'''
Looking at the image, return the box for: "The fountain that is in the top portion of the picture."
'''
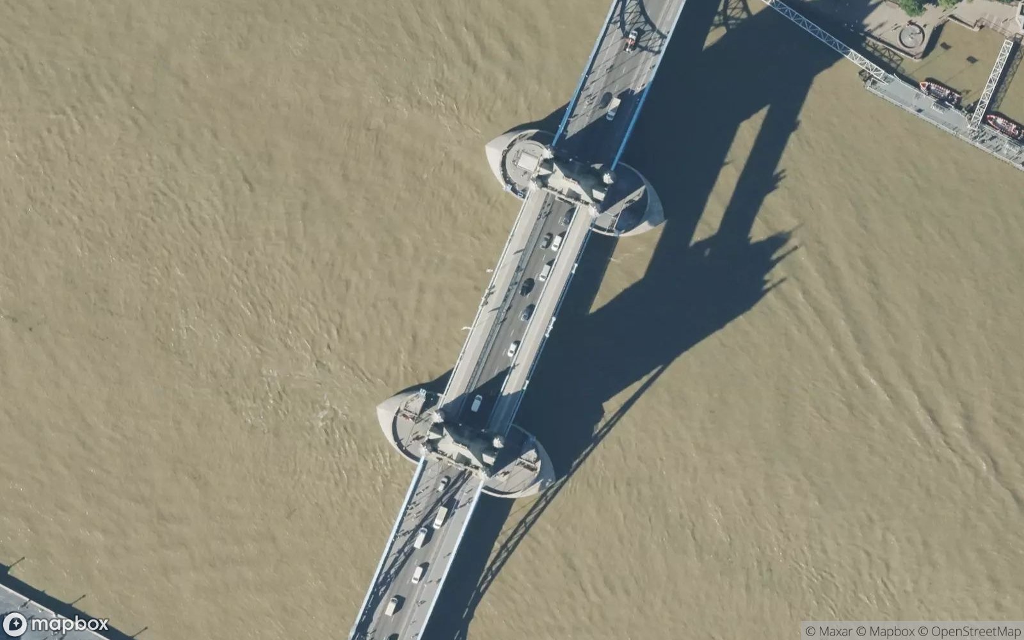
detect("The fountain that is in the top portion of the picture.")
[895,19,929,53]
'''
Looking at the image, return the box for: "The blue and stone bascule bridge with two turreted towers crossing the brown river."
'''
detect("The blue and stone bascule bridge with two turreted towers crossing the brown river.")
[346,0,691,640]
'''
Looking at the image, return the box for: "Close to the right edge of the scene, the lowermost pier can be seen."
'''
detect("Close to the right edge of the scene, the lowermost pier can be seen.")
[867,72,1024,168]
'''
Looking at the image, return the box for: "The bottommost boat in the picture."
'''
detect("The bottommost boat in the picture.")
[986,114,1024,142]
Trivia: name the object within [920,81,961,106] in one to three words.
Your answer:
boat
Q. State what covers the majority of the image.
water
